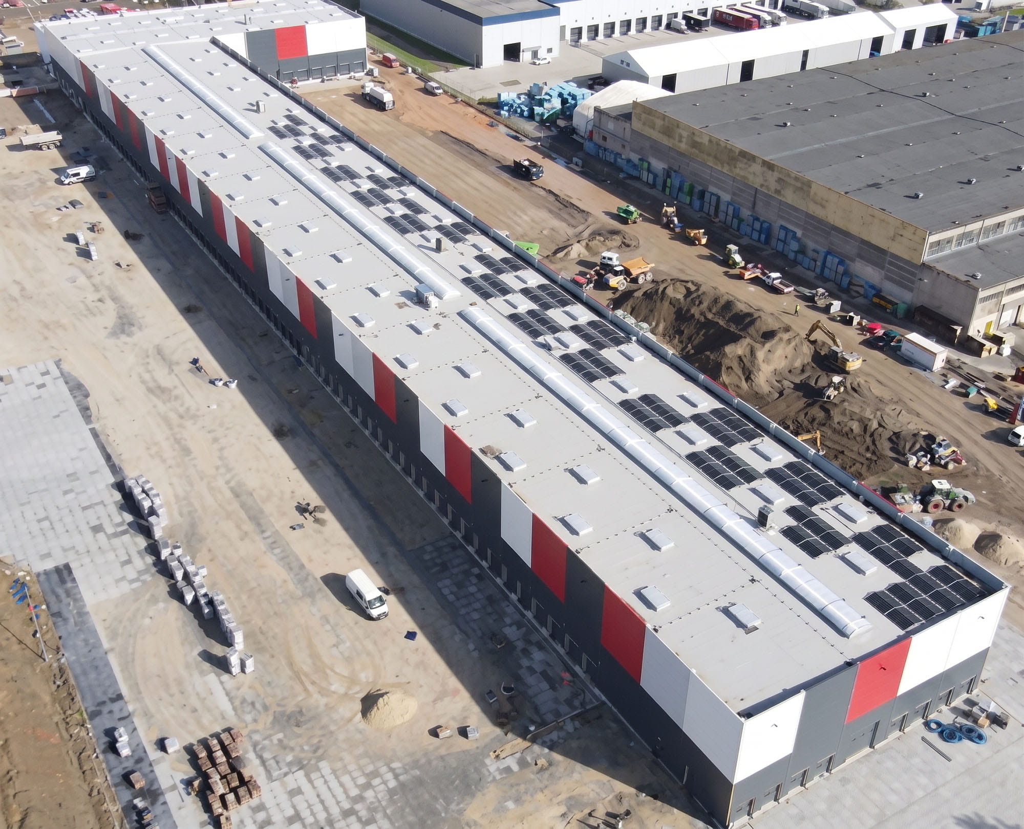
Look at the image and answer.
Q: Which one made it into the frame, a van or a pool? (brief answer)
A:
van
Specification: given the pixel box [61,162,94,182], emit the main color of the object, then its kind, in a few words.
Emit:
white vehicle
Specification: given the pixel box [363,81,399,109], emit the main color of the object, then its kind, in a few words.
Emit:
white truck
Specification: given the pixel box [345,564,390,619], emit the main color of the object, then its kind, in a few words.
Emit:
white van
